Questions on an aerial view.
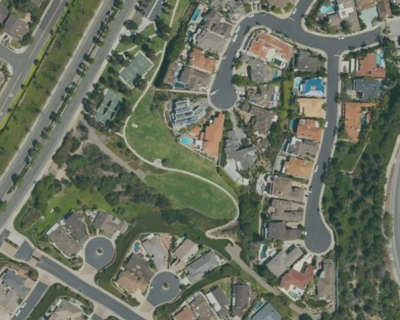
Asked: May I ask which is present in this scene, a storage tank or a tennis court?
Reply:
tennis court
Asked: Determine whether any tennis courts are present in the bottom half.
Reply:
No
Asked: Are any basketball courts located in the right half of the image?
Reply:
No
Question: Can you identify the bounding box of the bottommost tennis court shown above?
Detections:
[93,84,122,121]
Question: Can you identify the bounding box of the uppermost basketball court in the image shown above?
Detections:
[118,50,154,89]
